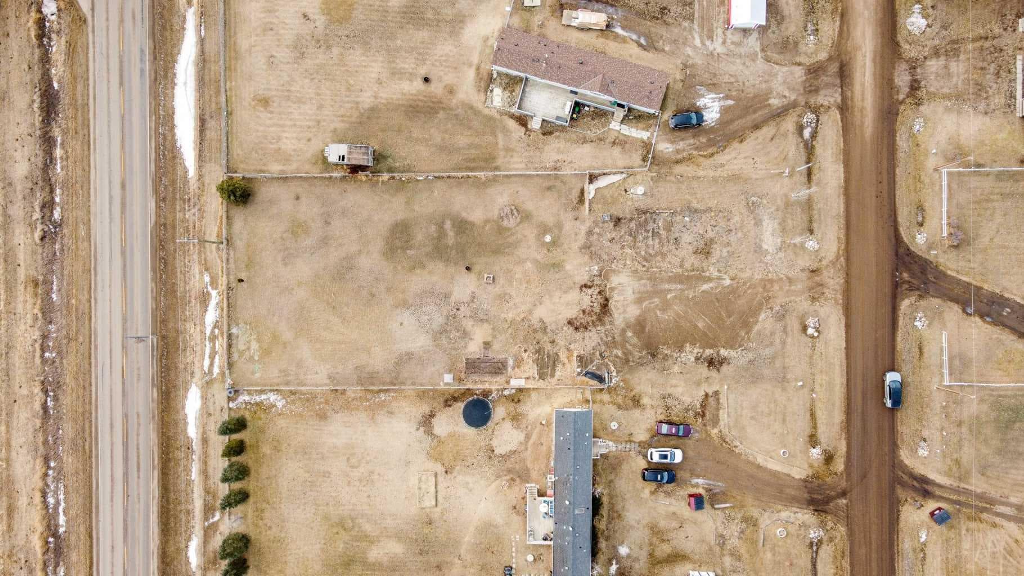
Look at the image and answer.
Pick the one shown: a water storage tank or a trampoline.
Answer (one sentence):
Looking from above, you can make out a trampoline.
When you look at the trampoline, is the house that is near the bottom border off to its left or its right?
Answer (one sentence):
From the viewer's perspective, the house that is near the bottom border falls to the right of the trampoline.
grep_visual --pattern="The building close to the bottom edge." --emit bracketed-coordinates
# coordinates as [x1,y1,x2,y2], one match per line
[552,406,593,576]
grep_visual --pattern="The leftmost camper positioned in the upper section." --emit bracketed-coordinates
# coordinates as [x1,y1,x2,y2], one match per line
[324,144,376,167]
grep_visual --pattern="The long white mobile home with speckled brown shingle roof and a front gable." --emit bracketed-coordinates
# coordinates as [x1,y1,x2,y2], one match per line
[492,28,669,117]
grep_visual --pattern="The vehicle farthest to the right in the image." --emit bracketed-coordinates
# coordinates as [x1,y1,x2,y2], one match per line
[882,371,902,408]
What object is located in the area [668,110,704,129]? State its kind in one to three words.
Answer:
car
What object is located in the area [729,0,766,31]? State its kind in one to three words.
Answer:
shed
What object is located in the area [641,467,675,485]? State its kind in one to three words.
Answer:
car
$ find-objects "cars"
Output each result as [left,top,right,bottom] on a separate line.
[647,447,682,464]
[668,110,704,129]
[655,421,692,439]
[882,371,902,408]
[641,467,675,485]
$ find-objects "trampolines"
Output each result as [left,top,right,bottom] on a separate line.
[462,396,493,428]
